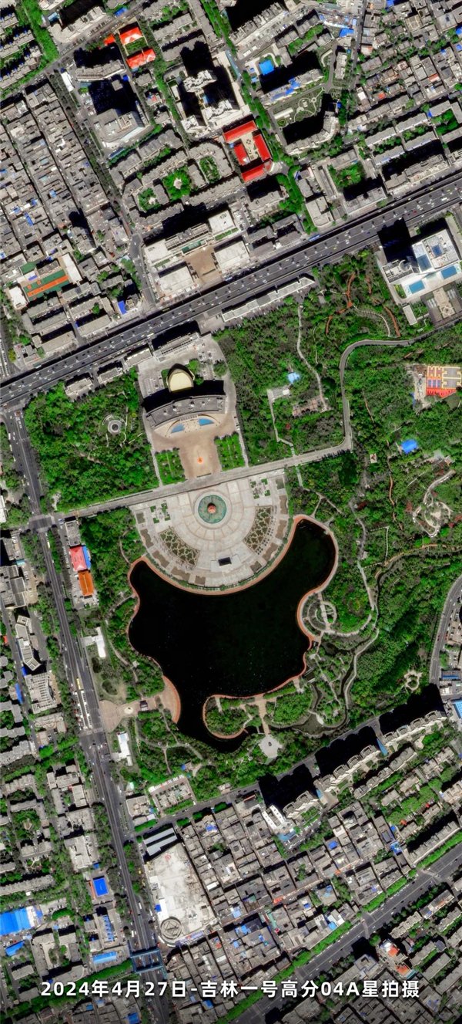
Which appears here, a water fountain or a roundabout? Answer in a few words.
water fountain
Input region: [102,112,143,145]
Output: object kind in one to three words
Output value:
building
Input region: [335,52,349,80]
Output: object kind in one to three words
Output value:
building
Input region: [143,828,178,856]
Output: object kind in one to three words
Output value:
shed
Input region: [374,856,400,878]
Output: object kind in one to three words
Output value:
house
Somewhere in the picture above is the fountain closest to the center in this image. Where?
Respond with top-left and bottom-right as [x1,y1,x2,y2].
[197,494,228,524]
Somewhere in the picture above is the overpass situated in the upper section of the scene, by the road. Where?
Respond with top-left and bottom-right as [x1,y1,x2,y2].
[0,179,462,400]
